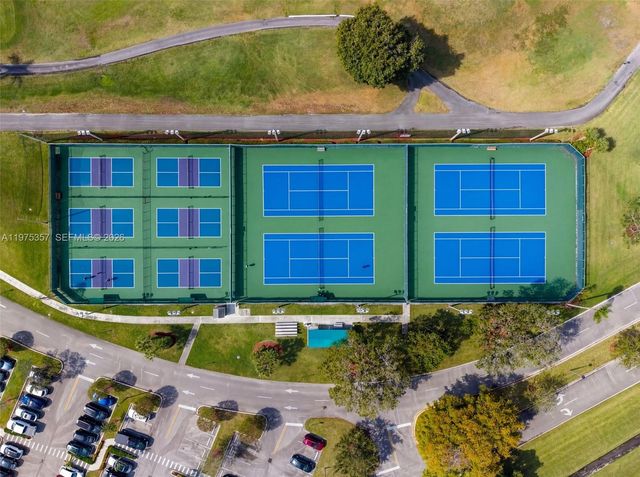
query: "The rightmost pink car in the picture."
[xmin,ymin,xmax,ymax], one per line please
[304,433,325,449]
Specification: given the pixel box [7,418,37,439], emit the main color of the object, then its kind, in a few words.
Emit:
white vehicle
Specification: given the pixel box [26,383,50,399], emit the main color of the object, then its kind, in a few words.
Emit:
white car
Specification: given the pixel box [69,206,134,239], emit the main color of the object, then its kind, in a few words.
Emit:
blue sports court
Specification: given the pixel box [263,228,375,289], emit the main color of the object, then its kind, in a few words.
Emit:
blue tennis court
